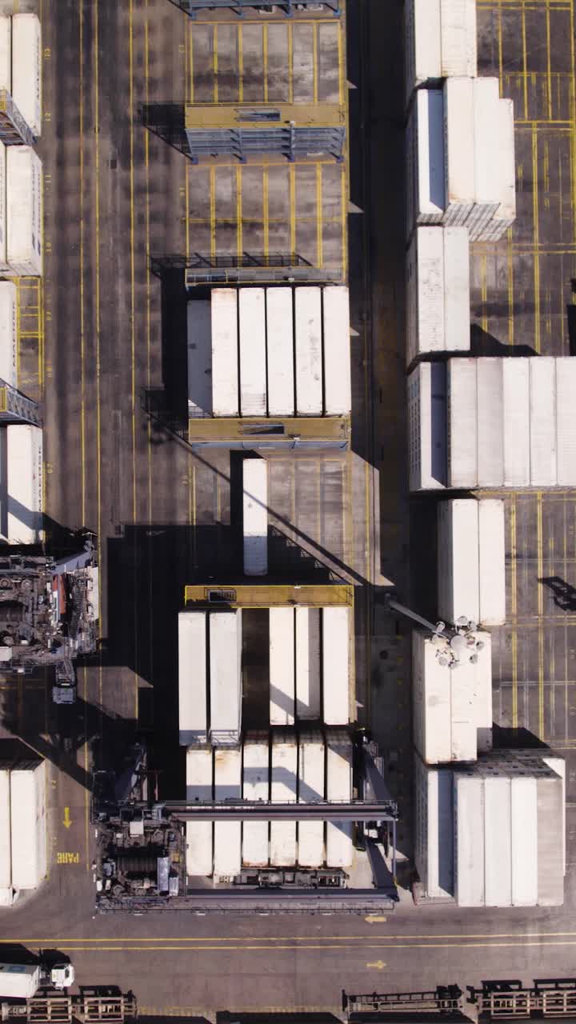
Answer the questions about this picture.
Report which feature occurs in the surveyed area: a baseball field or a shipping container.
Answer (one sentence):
There is a shipping container in the scene.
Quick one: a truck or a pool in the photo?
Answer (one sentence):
It is a truck that can be seen here.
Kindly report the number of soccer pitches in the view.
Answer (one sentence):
No soccer pitches are visible.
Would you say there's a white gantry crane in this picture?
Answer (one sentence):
No, there's no white gantry crane here.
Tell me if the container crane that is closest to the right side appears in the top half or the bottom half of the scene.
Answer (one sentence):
The bottom half of the photo is where the container crane that is closest to the right side is.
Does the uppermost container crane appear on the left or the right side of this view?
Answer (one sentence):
You can find the uppermost container crane on the left side of the picture.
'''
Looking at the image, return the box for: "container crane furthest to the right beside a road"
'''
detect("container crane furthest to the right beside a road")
[91,720,403,919]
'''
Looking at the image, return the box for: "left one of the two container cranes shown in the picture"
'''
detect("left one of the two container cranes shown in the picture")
[0,527,102,672]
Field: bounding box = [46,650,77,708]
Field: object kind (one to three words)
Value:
truck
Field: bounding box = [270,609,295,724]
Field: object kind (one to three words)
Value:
shipping container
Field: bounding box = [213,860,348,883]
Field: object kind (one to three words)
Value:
trailer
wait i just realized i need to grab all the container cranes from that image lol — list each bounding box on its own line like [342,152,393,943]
[0,527,102,672]
[91,720,403,919]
